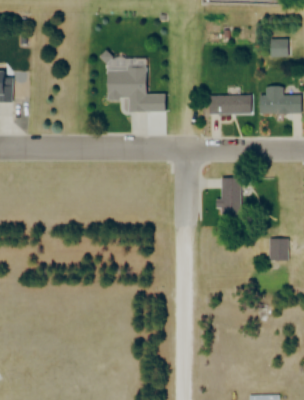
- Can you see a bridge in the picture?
No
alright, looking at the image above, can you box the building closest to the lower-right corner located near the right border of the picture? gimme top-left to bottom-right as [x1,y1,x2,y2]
[271,240,290,260]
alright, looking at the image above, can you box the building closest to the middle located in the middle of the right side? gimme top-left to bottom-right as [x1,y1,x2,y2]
[214,178,242,224]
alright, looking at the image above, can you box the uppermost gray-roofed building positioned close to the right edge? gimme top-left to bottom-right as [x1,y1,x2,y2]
[271,39,290,58]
